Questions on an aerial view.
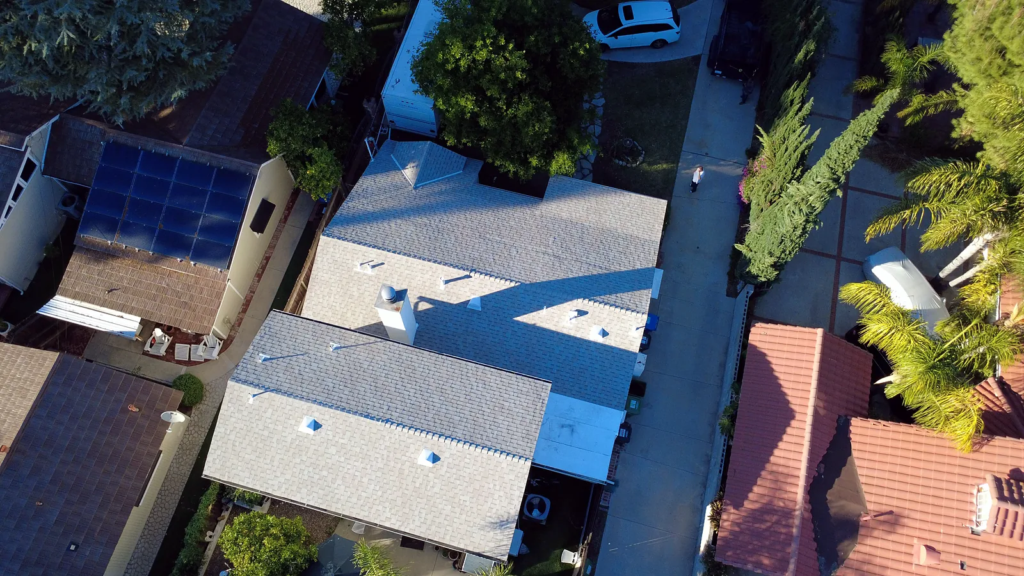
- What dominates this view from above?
buildings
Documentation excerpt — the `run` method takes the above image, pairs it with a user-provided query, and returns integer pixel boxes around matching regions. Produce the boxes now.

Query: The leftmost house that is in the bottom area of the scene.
[0,340,192,576]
